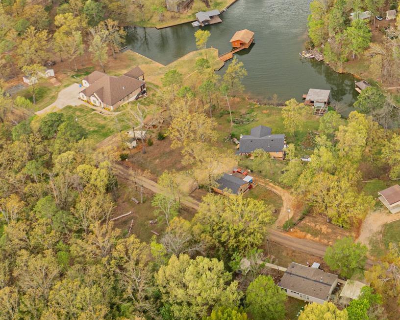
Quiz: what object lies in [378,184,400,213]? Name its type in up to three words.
building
